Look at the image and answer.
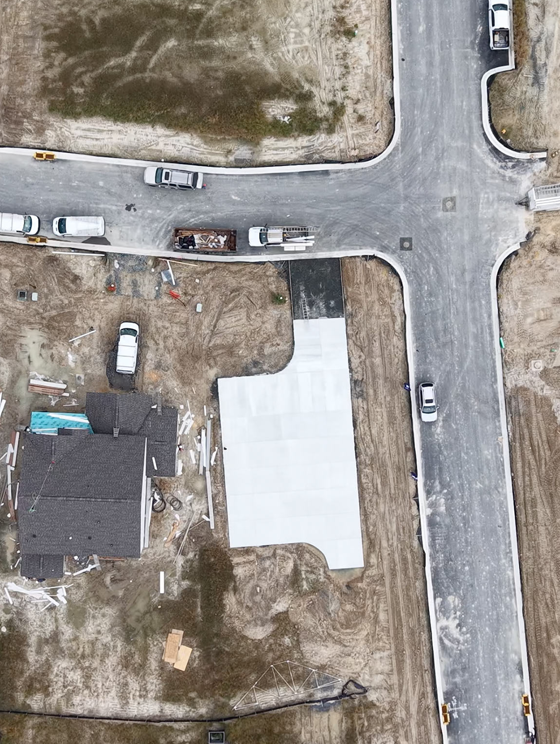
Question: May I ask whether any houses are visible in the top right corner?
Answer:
No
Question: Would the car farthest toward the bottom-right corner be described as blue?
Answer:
No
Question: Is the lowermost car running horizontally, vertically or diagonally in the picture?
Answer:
vertically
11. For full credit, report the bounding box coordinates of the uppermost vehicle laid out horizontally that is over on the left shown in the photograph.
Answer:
[144,165,204,191]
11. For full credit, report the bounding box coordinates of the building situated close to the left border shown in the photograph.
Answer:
[18,393,179,578]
